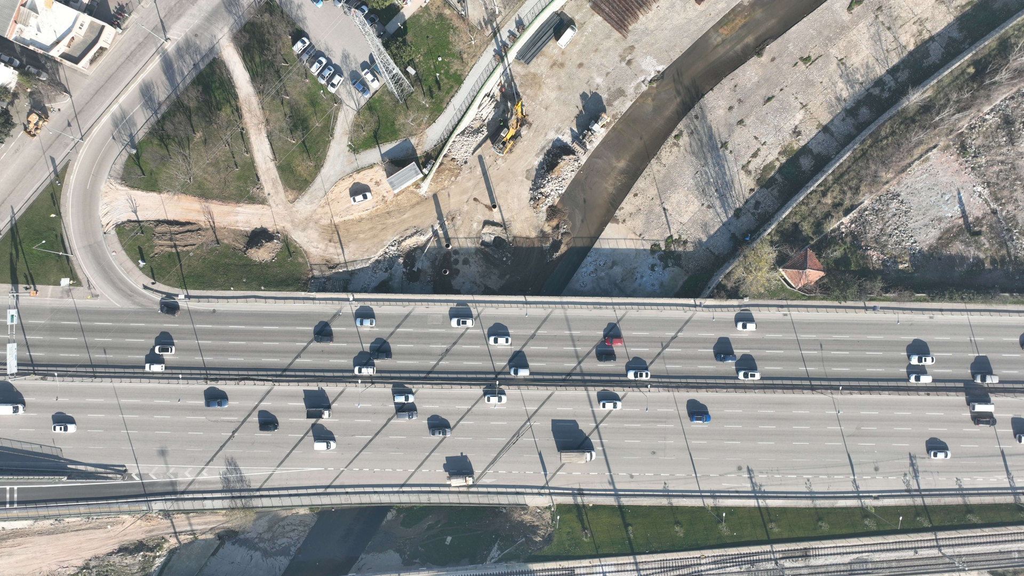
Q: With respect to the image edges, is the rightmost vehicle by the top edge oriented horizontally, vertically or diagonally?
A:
diagonally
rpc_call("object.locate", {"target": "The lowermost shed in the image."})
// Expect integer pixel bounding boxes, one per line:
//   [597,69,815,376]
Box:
[775,248,826,290]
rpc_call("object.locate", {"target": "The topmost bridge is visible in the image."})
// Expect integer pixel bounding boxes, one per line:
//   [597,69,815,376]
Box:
[180,293,712,510]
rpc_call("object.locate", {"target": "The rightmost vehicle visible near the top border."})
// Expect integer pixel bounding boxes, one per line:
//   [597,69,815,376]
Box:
[555,26,578,50]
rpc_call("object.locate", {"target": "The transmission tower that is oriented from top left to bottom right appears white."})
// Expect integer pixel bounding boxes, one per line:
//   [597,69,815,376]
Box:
[340,0,413,102]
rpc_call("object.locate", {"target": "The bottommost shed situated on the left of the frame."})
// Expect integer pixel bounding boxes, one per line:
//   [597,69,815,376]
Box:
[386,162,425,195]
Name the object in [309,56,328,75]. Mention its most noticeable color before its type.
white car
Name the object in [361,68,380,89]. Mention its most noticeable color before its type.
white car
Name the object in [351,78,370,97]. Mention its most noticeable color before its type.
blue car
